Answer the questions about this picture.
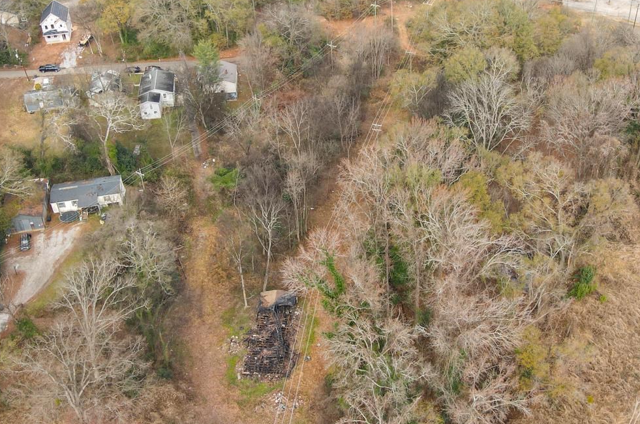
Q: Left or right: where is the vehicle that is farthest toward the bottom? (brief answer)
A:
left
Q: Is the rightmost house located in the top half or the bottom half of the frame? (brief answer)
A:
bottom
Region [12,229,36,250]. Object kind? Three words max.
vehicle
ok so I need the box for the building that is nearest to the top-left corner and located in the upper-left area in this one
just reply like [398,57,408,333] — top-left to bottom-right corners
[0,3,26,28]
